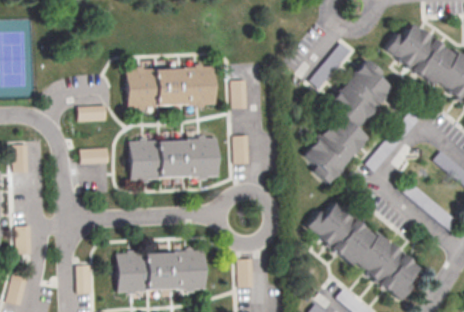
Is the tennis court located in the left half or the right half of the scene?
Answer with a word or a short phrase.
left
